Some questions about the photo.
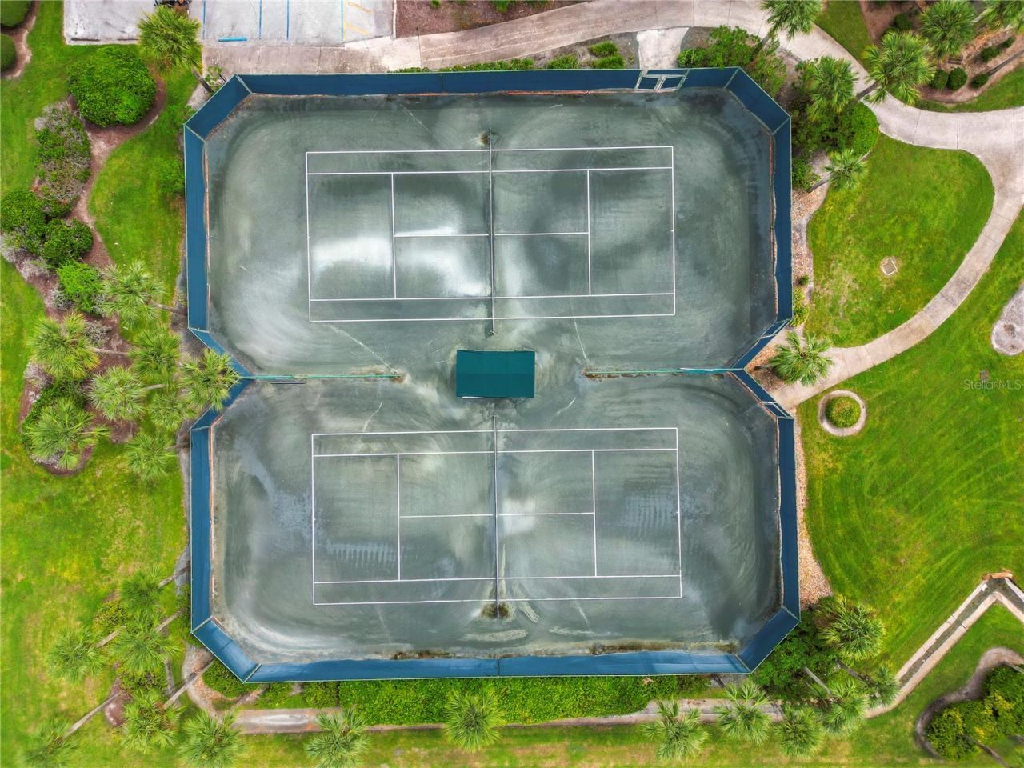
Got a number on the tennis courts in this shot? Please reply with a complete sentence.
The number of tennis courts here is 2.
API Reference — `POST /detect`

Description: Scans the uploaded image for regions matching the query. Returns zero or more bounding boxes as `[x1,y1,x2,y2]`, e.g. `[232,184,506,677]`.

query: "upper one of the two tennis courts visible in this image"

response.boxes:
[205,88,776,376]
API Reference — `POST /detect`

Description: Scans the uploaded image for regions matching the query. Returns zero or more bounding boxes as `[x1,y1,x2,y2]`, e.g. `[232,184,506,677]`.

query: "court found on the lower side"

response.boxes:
[211,370,782,663]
